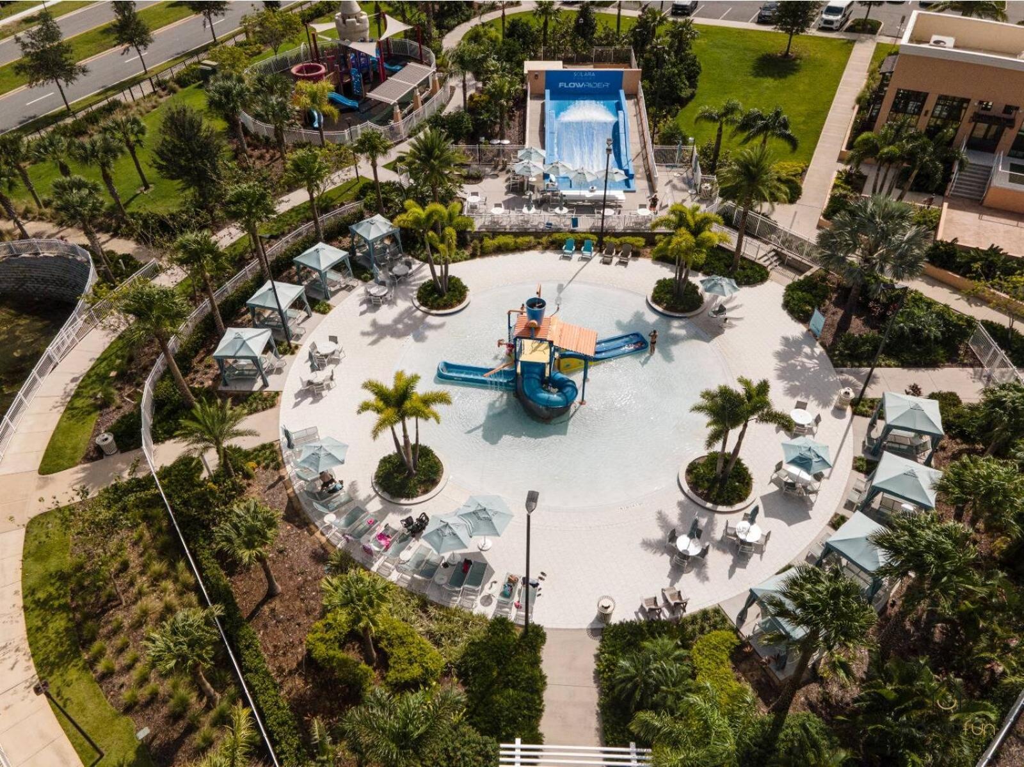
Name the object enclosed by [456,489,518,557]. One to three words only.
umbrella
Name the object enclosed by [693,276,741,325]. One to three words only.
umbrella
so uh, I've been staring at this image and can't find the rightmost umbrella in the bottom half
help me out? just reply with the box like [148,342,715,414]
[772,435,841,499]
